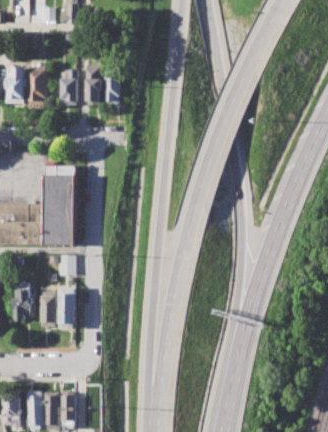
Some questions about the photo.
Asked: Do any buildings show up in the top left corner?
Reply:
Yes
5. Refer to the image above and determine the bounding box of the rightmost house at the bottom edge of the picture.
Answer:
[62,394,76,429]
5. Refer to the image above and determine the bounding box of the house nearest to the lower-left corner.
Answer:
[4,397,22,432]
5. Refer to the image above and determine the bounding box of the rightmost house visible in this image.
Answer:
[104,76,120,104]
